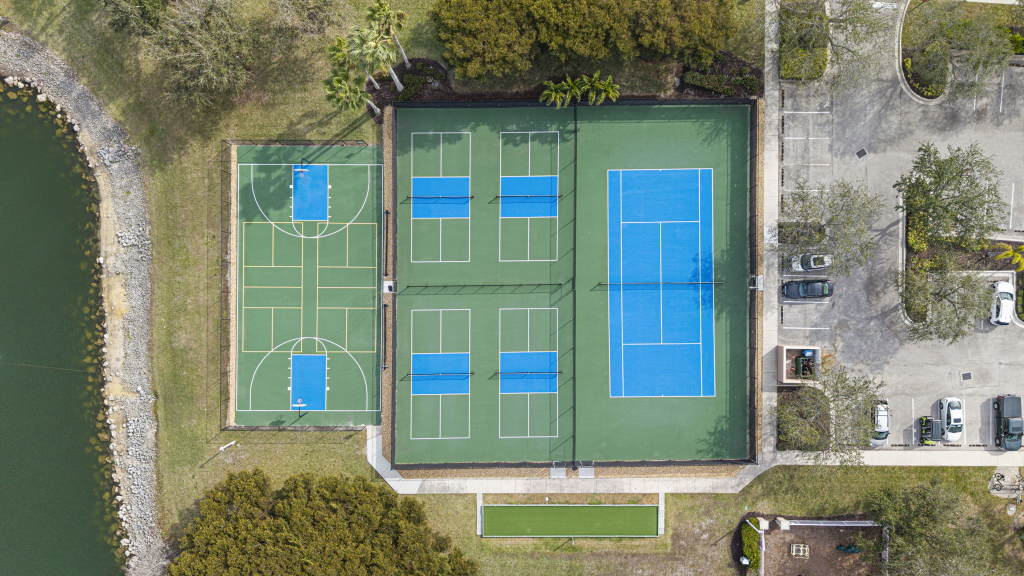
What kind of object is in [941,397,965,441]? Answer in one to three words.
car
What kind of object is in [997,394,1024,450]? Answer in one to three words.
truck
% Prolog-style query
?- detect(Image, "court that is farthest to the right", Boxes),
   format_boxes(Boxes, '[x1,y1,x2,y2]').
[574,104,750,461]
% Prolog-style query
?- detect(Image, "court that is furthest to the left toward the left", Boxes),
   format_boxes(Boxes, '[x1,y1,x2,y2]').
[236,145,384,426]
